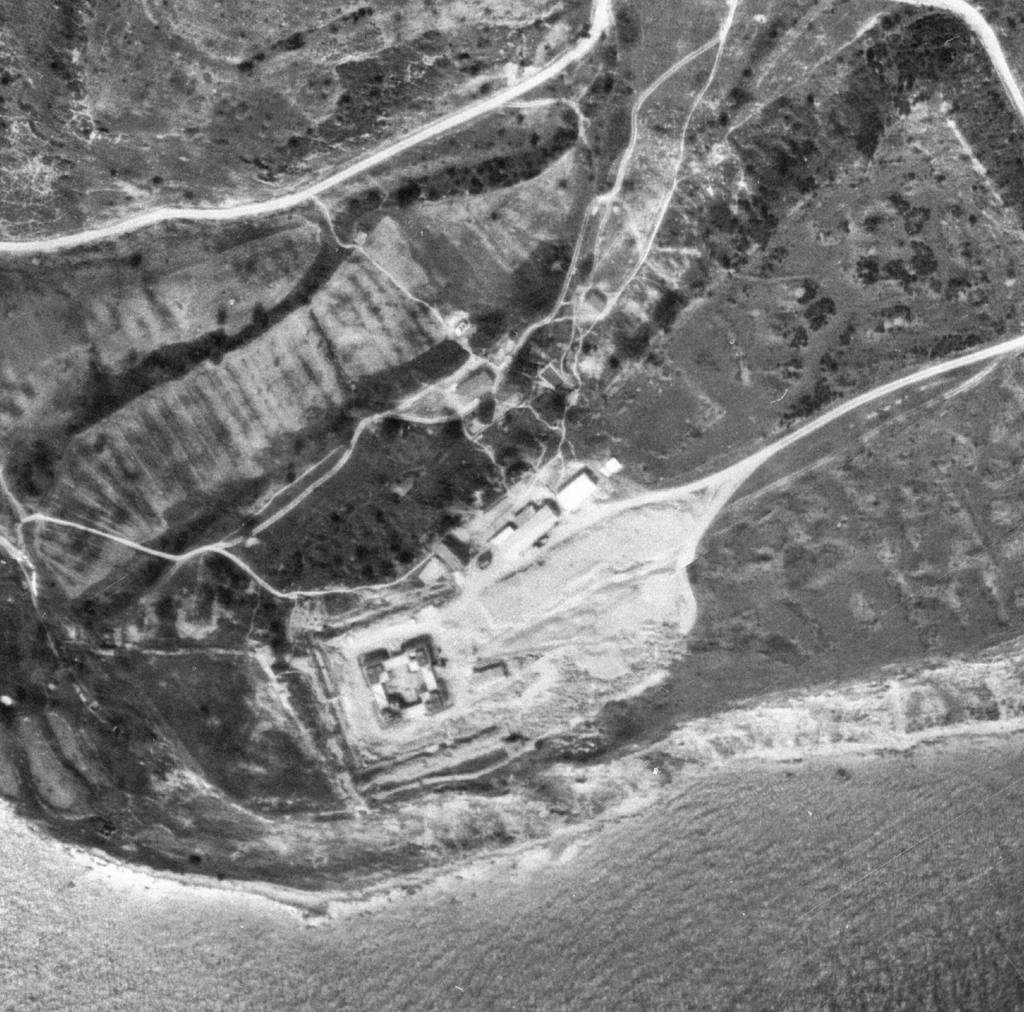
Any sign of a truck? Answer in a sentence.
No, I find no truck anywhere in the image.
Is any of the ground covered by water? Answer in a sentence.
Yes, there's water in this view.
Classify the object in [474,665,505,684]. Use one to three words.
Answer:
house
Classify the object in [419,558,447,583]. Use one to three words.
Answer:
house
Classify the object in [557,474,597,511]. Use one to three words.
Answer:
barn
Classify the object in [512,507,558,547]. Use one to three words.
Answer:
shed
